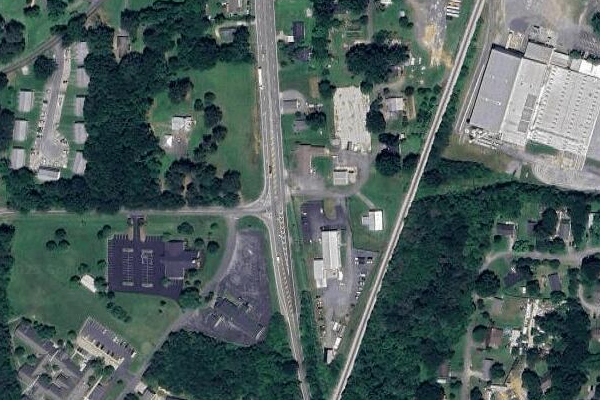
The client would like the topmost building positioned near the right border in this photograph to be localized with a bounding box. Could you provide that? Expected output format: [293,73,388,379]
[470,38,600,168]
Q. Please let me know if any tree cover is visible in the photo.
Yes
